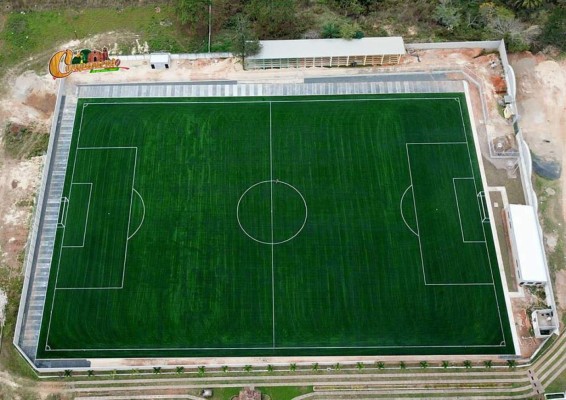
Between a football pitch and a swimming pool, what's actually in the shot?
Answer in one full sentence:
I can see a football pitch in this picture.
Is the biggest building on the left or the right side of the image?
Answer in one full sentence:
The biggest building sits on the right side.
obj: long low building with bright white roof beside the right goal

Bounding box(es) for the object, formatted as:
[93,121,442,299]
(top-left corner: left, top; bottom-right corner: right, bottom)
[507,201,550,286]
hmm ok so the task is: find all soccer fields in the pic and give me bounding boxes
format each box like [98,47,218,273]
[36,92,515,359]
